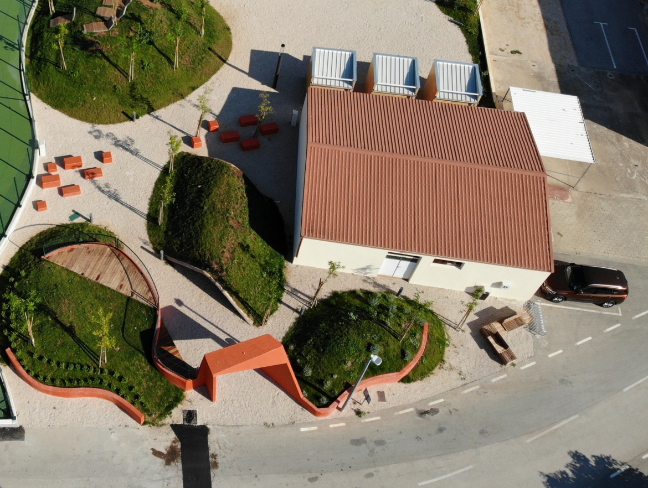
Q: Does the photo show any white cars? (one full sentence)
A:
No, no white car is visible in the view.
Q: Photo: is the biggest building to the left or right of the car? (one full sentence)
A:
Relative to the car, the biggest building is on the left.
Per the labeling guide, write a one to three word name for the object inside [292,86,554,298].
building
